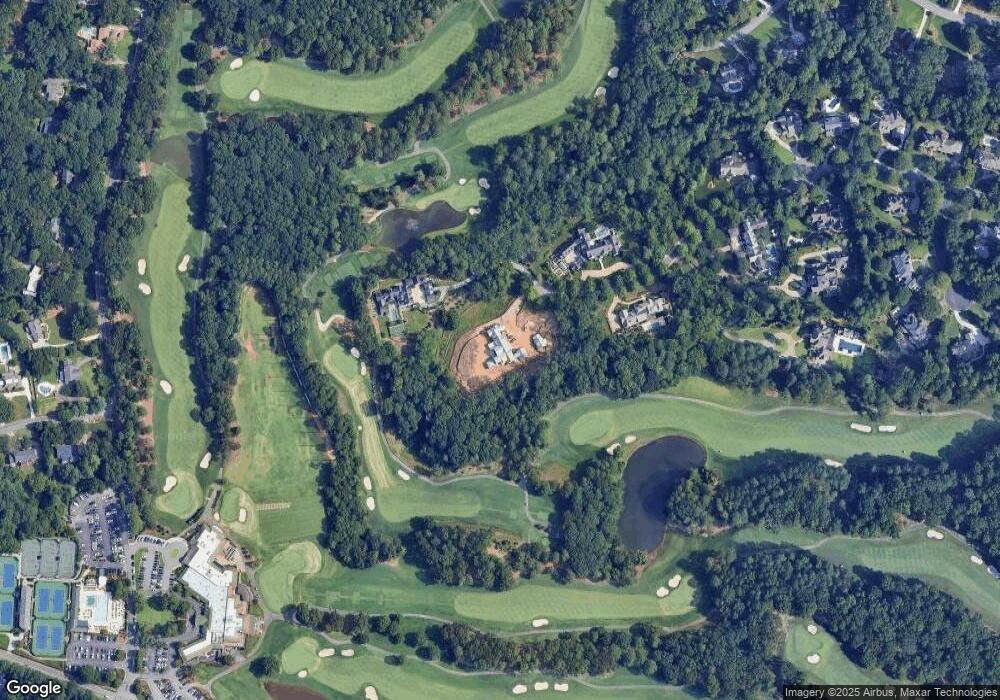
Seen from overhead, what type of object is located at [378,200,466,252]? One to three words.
pond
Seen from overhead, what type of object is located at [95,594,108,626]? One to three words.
swimming pool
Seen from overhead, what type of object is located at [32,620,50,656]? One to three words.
tennis court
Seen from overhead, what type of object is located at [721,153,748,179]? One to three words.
house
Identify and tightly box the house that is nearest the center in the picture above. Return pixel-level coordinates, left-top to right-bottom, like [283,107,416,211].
[484,324,527,371]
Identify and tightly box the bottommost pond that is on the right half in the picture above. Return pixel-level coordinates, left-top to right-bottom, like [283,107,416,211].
[620,434,707,552]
